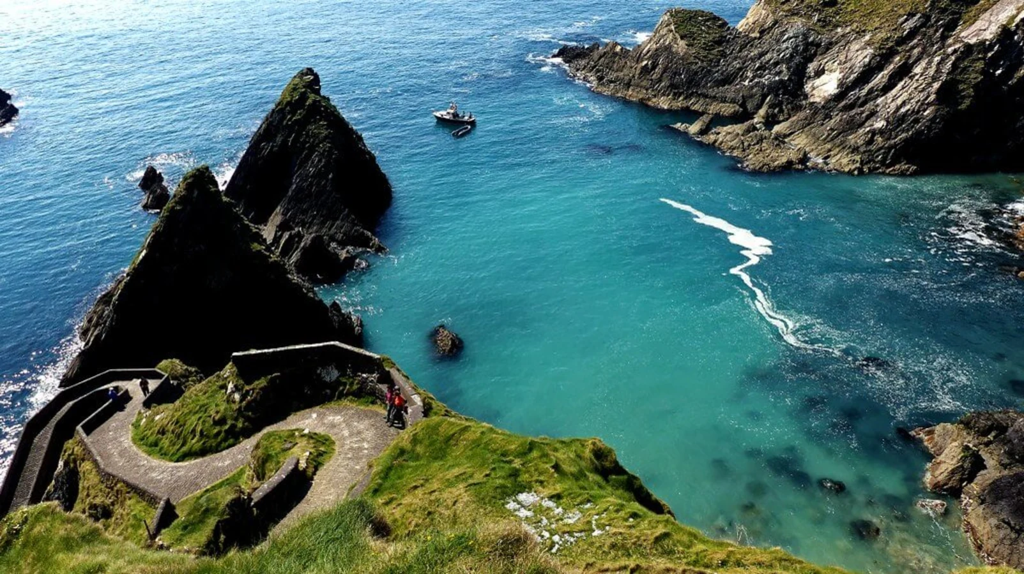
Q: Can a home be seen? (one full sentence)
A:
No, the picture doesn't show any home.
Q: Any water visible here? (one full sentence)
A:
Yes, there's water in this view.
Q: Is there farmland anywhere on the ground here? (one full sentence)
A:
No, farmland can't be seen anywhere here.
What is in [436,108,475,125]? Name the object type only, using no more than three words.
boat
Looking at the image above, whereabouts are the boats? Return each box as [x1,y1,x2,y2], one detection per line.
[450,127,470,138]
[436,108,475,125]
